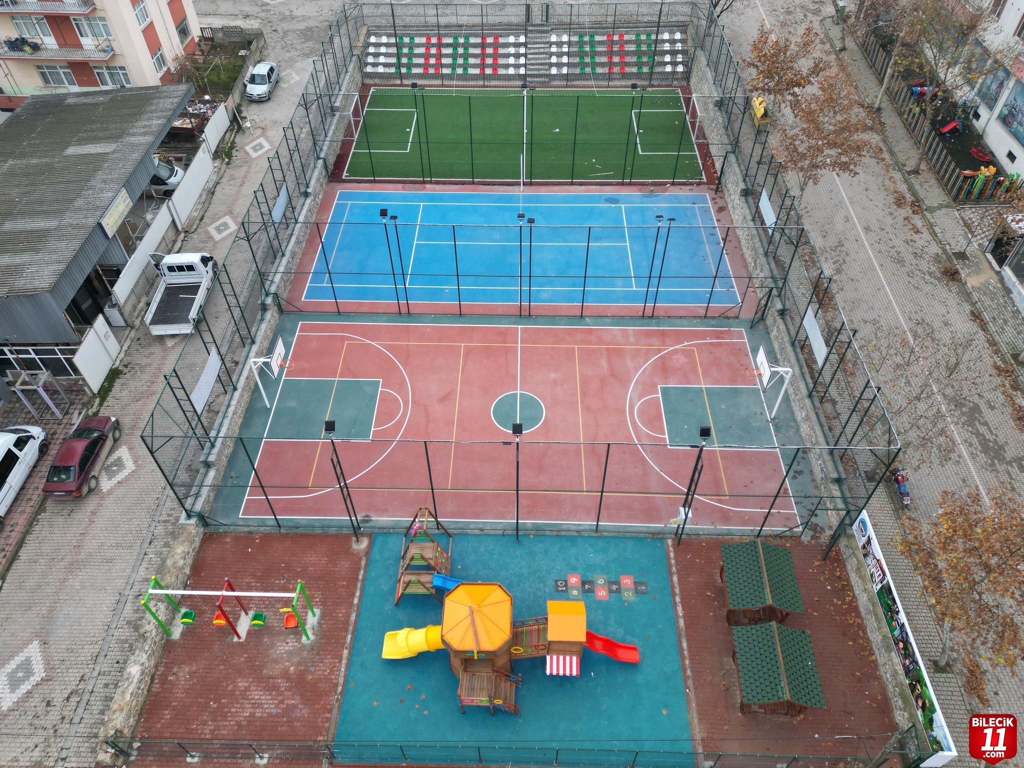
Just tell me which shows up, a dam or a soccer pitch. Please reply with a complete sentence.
Visible in the photo is a soccer pitch.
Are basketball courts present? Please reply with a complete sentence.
Yes, a basketball court appears in the view.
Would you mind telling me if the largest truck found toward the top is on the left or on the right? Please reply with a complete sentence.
It is on the left.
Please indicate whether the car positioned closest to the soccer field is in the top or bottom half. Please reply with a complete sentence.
It is in the top half that the car positioned closest to the soccer field appears.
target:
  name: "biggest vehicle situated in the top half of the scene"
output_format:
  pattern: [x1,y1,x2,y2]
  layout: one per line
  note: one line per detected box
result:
[139,250,215,327]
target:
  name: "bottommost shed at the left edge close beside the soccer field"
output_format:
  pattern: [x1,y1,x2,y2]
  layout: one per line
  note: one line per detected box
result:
[0,83,211,377]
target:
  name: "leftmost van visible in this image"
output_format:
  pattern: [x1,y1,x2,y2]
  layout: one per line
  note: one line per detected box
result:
[0,431,44,523]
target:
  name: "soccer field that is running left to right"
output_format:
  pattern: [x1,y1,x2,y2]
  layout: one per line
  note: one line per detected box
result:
[332,84,720,185]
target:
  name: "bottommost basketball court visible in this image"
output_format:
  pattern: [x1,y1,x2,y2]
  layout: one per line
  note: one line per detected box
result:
[211,314,830,538]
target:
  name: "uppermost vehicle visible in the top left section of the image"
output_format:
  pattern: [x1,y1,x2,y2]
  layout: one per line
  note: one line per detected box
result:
[242,60,282,94]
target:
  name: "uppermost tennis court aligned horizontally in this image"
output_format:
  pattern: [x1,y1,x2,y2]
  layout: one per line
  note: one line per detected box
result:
[285,156,761,321]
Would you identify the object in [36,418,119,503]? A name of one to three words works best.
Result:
car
